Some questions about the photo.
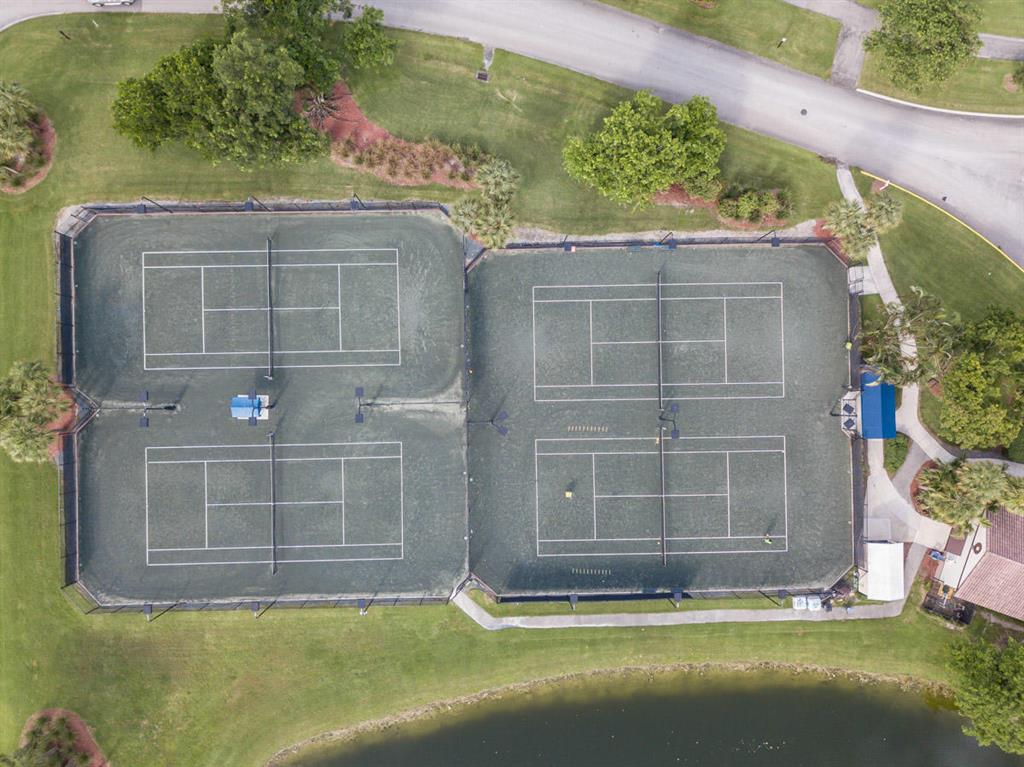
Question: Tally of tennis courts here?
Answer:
4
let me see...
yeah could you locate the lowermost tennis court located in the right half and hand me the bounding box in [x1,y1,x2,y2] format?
[468,414,853,596]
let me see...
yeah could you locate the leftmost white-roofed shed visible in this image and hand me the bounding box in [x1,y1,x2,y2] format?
[860,539,904,599]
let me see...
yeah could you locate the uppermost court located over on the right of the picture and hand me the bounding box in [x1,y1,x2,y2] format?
[467,243,851,419]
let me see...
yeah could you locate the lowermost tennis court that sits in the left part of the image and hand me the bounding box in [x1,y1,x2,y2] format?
[75,405,469,606]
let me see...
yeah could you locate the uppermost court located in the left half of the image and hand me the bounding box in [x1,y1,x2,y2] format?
[72,209,467,409]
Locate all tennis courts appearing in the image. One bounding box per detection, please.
[72,209,467,409]
[467,243,851,419]
[468,414,853,596]
[75,405,469,606]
